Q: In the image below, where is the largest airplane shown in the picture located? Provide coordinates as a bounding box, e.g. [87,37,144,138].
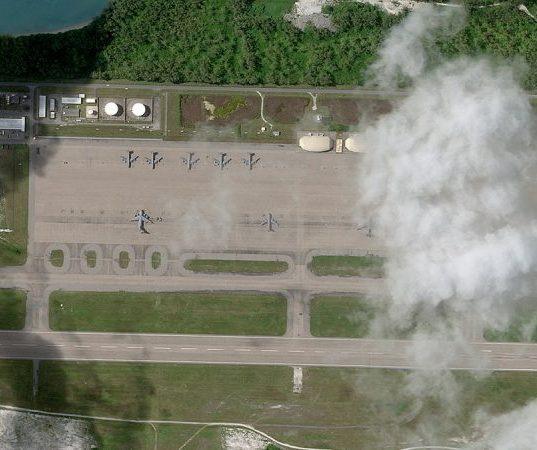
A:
[128,209,153,234]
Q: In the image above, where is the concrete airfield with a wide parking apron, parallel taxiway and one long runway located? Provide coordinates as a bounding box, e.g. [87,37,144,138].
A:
[0,137,537,397]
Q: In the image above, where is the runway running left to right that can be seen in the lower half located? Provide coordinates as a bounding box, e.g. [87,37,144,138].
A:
[0,330,537,372]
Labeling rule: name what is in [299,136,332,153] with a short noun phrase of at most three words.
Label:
hangar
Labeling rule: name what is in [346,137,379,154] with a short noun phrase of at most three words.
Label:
hangar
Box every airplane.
[128,209,153,234]
[213,153,231,170]
[181,152,199,170]
[145,151,162,169]
[261,213,278,231]
[242,153,260,171]
[121,150,138,168]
